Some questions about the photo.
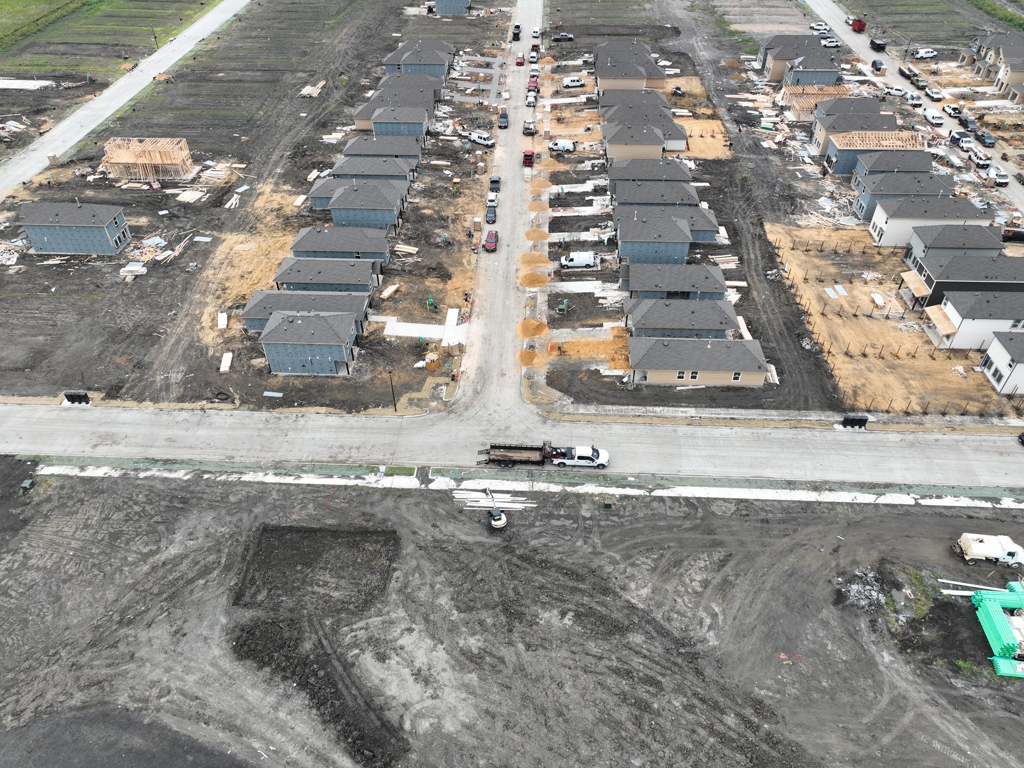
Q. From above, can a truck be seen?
Yes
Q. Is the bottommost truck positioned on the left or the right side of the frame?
right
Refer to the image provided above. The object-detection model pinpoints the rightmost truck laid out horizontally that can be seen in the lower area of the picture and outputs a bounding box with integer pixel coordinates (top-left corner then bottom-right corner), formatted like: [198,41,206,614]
[941,531,1024,568]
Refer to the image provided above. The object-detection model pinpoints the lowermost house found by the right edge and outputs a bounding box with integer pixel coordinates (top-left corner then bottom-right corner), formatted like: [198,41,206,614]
[977,331,1024,396]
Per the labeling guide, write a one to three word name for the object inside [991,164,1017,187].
vehicle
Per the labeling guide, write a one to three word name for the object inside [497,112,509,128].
vehicle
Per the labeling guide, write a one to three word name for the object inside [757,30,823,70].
house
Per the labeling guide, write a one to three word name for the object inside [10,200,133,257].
house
